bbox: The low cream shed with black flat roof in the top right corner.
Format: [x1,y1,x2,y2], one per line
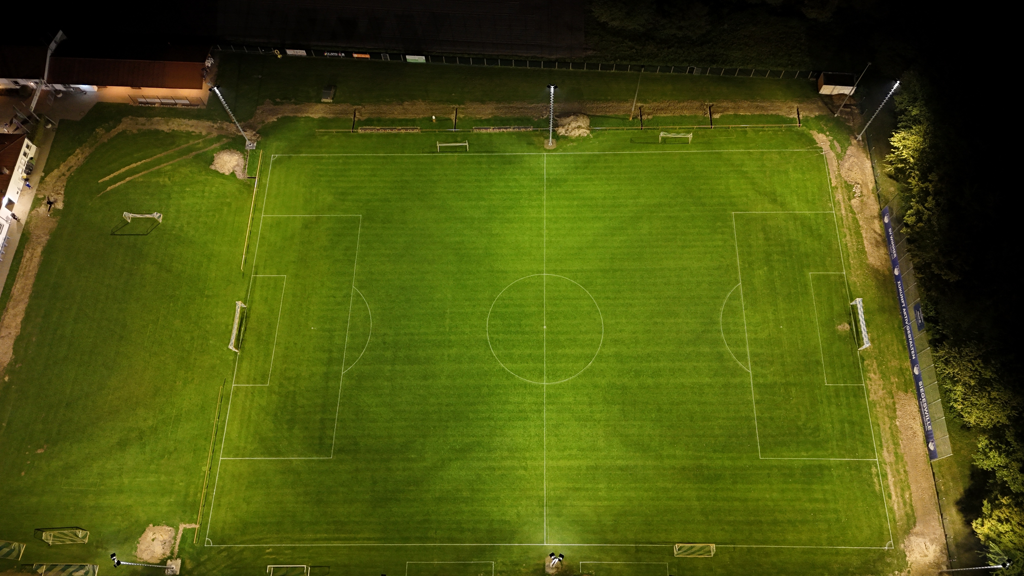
[818,70,856,95]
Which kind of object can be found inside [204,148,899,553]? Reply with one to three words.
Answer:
soccer field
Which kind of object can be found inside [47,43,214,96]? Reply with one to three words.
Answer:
building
